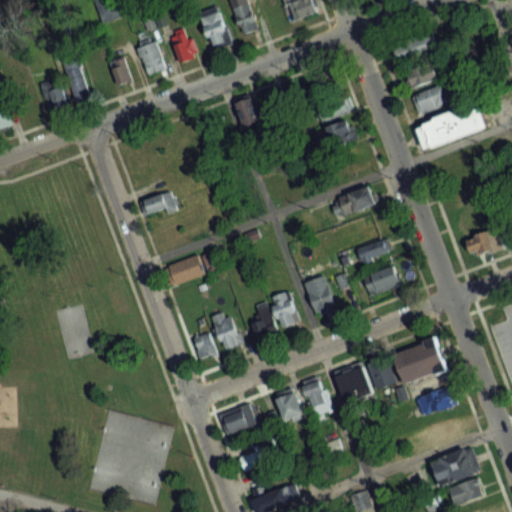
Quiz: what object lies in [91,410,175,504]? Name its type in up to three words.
basketball court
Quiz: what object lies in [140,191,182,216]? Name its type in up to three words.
house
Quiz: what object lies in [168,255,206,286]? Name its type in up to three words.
house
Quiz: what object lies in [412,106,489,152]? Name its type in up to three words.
building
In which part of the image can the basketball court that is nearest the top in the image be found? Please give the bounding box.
[58,305,94,358]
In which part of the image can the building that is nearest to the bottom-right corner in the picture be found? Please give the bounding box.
[450,479,486,508]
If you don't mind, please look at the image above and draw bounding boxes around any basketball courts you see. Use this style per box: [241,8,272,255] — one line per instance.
[91,410,175,504]
[58,305,94,358]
